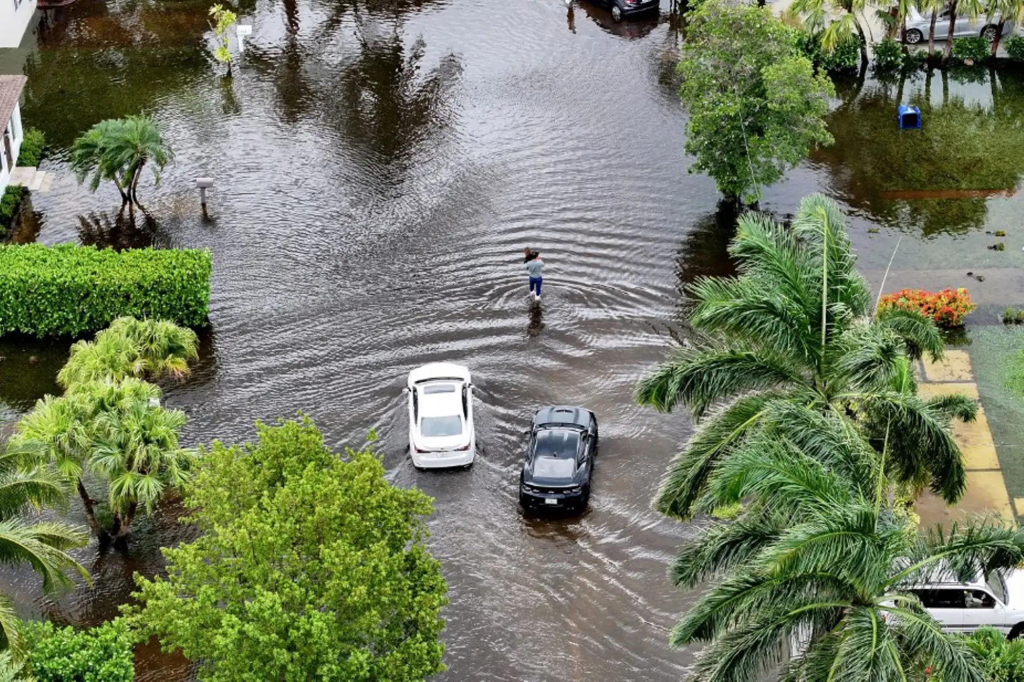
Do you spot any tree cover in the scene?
Yes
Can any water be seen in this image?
Yes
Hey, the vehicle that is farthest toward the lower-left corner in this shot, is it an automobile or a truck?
automobile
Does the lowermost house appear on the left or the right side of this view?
left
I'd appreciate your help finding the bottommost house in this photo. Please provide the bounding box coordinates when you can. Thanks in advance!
[0,77,82,197]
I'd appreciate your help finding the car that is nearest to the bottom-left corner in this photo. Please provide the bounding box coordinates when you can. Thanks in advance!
[402,358,474,465]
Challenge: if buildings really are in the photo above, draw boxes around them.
[0,0,37,47]
[0,77,82,197]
